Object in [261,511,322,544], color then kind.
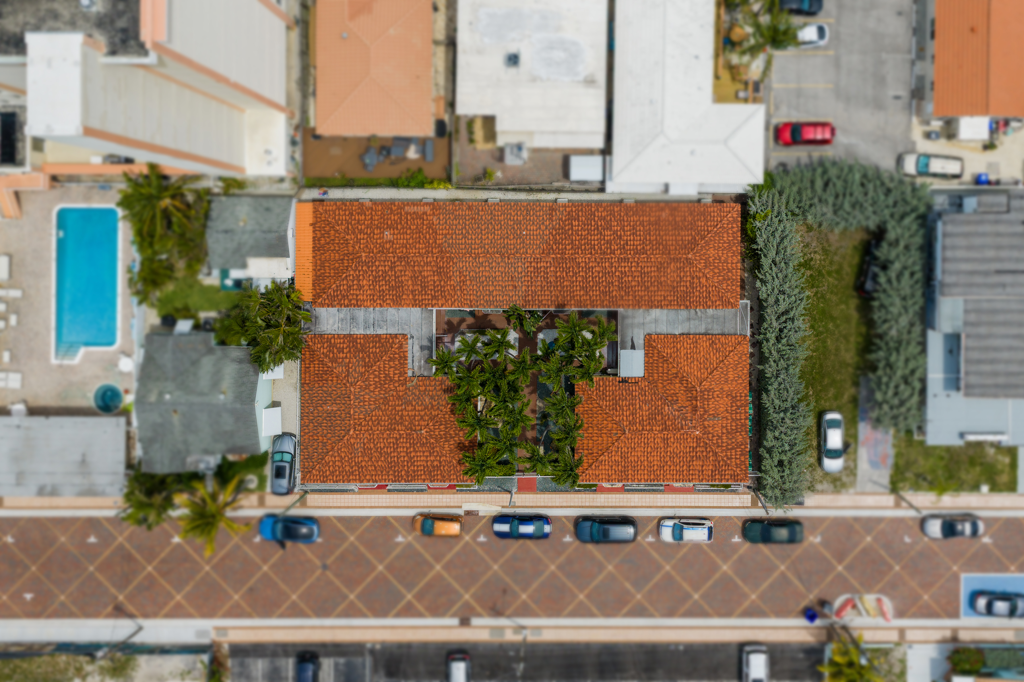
blue car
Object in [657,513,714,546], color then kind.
white car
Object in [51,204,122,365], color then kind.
blue swimming pool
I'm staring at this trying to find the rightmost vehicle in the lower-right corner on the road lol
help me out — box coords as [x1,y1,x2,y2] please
[966,587,1024,620]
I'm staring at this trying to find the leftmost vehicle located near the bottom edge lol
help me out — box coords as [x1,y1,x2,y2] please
[295,647,323,682]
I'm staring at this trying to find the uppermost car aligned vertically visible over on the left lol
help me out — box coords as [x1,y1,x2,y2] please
[269,431,299,494]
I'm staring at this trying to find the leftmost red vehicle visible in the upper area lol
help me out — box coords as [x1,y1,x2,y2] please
[773,118,839,147]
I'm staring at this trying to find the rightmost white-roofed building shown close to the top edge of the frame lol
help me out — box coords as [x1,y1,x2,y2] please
[609,0,765,192]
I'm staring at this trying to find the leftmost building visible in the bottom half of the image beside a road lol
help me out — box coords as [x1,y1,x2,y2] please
[0,408,137,495]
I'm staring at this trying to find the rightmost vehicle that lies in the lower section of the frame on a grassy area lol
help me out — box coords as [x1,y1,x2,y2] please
[816,410,846,471]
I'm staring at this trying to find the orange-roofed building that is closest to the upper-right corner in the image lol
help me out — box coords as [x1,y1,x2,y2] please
[917,0,1024,117]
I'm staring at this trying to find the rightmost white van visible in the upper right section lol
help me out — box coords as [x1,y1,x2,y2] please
[894,150,965,180]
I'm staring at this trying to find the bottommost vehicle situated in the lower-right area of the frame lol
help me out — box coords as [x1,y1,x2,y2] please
[740,640,769,682]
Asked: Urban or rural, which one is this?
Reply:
urban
